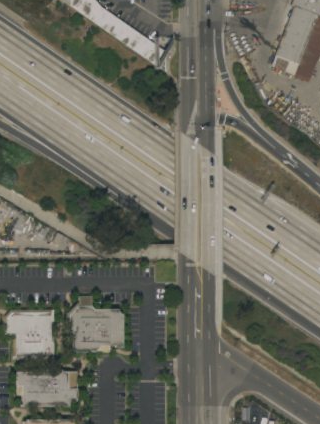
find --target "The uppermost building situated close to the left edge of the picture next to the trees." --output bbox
[6,310,54,358]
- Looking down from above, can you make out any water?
No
